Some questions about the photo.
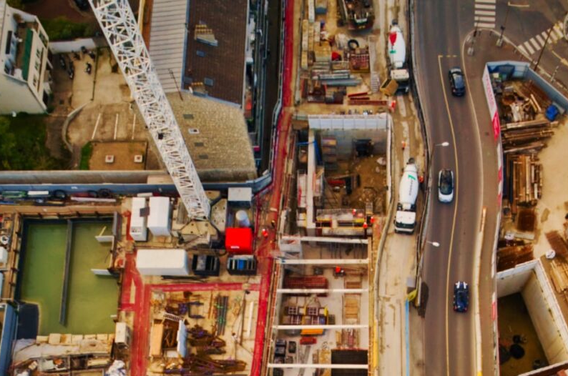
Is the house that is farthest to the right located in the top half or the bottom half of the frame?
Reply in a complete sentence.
The house that is farthest to the right is in the top half of the image.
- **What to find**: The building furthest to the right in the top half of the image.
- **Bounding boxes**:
[145,0,269,165]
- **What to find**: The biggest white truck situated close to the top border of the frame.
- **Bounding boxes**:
[387,7,412,88]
